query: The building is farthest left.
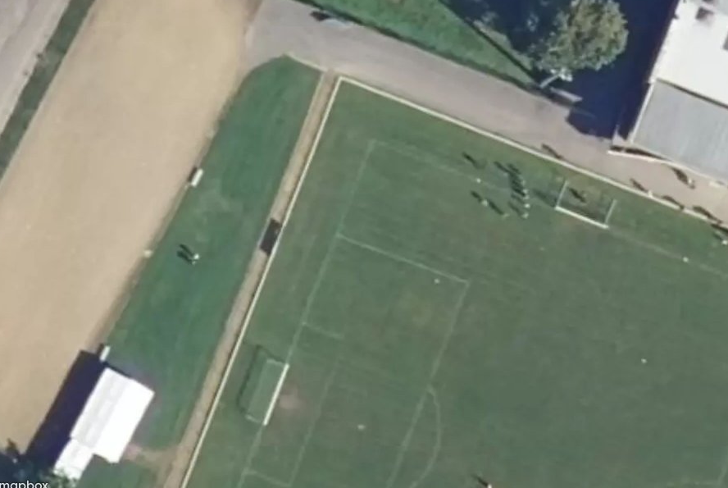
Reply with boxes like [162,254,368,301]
[55,368,154,478]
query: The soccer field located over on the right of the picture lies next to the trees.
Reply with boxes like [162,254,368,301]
[185,82,728,488]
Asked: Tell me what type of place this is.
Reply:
sports ground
